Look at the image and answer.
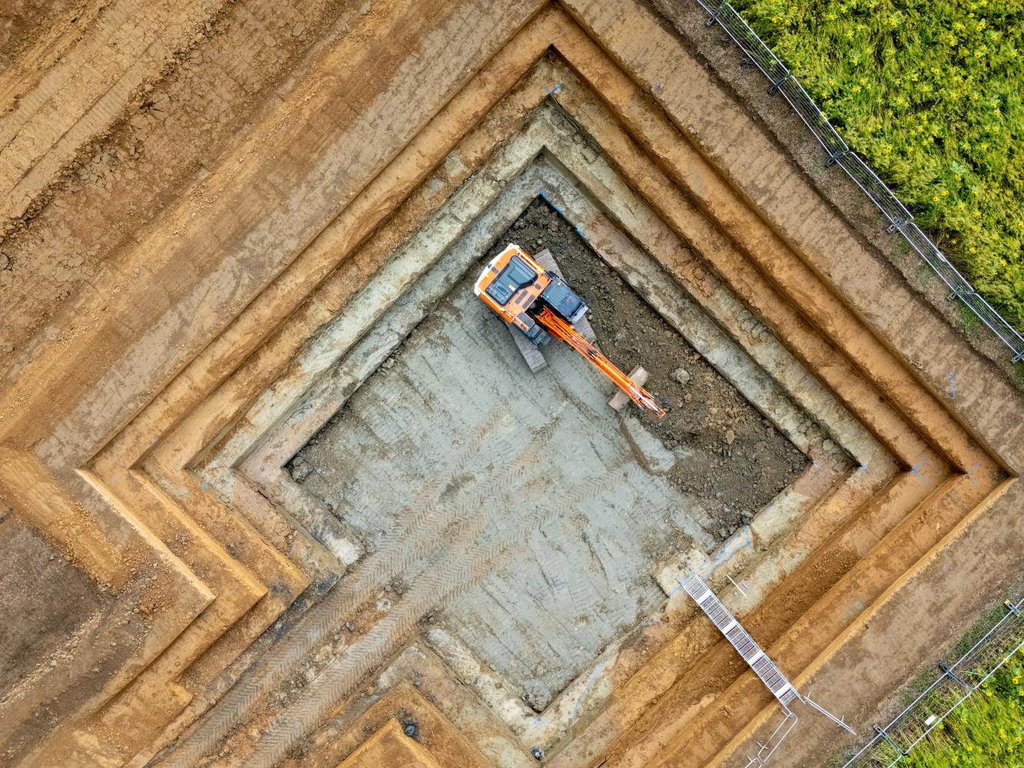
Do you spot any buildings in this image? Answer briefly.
No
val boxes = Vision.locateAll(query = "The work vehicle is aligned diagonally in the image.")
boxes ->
[475,246,669,422]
